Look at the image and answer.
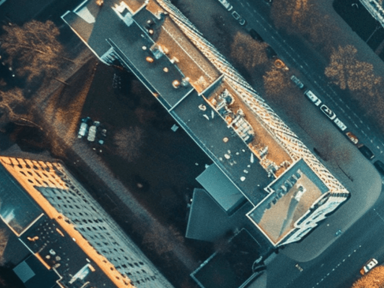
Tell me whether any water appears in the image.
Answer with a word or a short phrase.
No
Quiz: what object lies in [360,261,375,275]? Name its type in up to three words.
vehicle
